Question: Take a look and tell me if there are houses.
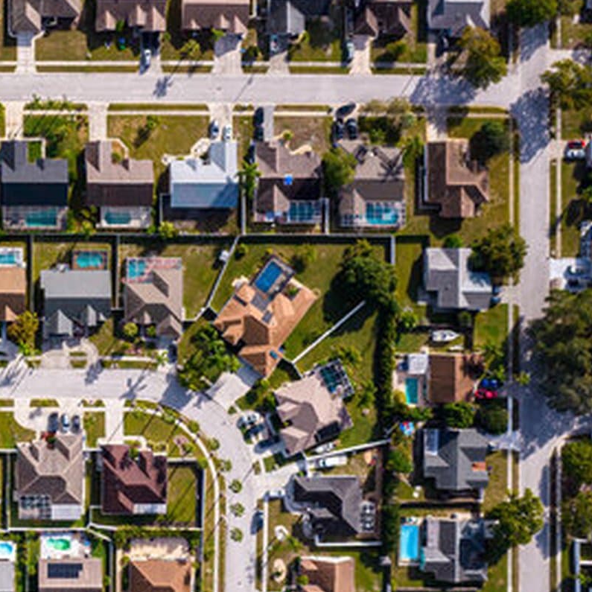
Yes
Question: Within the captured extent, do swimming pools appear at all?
Yes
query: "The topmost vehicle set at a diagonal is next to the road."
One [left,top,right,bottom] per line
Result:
[336,101,355,117]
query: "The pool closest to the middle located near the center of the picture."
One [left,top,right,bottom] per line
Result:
[250,242,298,294]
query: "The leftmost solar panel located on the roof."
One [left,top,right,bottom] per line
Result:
[48,564,80,582]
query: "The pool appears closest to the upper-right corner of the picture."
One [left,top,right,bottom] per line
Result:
[340,201,407,227]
